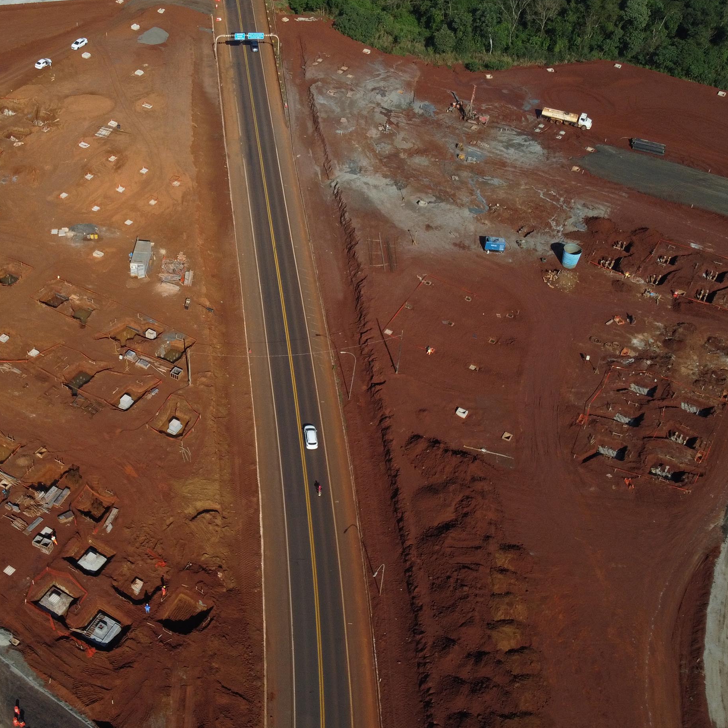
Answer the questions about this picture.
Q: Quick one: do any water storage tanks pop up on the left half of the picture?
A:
No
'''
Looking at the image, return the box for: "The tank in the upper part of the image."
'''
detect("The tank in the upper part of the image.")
[558,243,583,269]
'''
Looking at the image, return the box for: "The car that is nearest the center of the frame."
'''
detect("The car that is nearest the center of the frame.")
[304,425,319,448]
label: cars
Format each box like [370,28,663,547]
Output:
[33,57,52,67]
[250,39,259,51]
[304,425,319,448]
[70,38,88,50]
